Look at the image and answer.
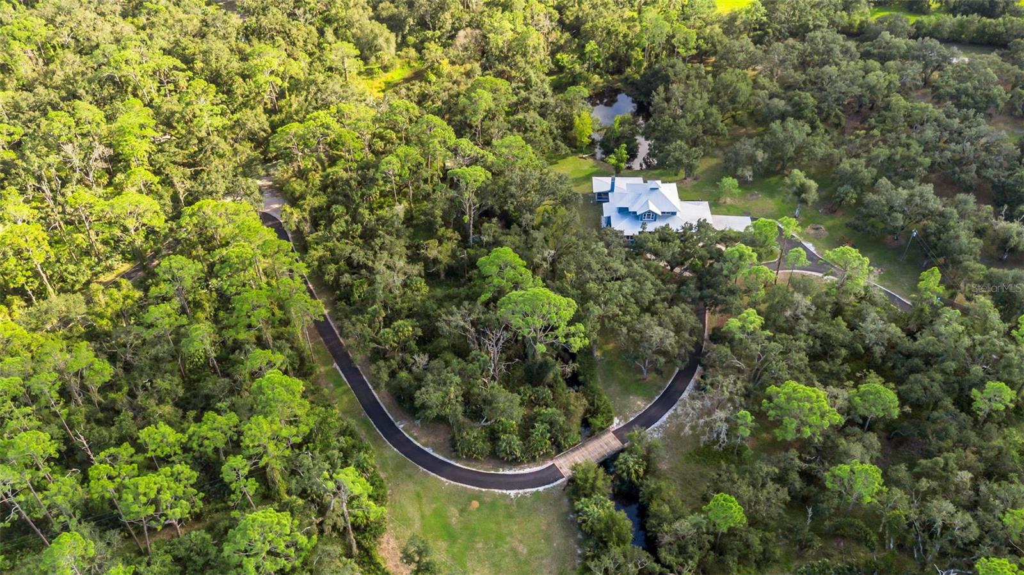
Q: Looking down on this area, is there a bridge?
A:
Yes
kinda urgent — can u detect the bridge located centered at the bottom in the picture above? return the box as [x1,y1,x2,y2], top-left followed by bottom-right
[549,426,628,481]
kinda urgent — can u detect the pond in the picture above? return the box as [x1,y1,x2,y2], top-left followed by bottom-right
[587,92,660,174]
